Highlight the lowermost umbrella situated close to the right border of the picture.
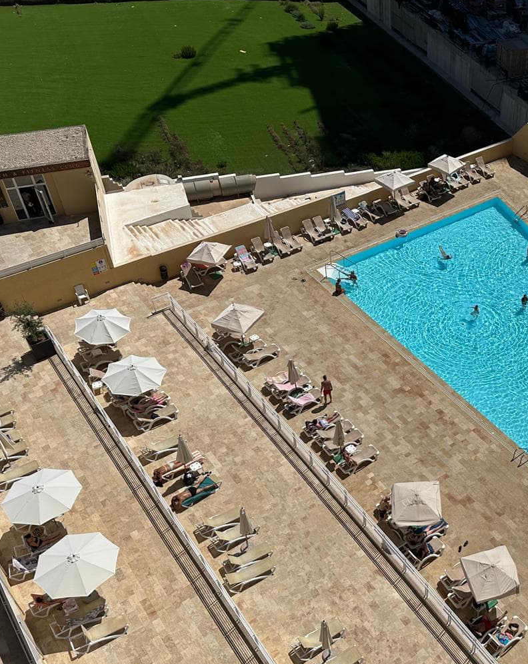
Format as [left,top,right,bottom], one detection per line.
[459,548,525,613]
